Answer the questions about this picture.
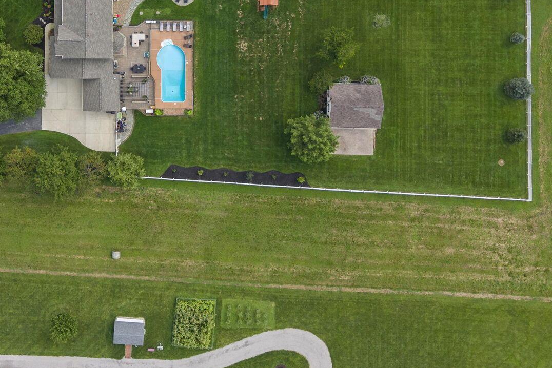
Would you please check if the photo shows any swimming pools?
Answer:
Yes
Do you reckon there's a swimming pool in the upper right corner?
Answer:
No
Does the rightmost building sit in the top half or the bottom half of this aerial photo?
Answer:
top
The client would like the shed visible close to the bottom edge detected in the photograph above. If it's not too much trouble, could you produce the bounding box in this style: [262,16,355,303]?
[113,320,144,351]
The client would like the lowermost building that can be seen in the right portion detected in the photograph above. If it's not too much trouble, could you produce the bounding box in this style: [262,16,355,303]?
[327,83,384,129]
